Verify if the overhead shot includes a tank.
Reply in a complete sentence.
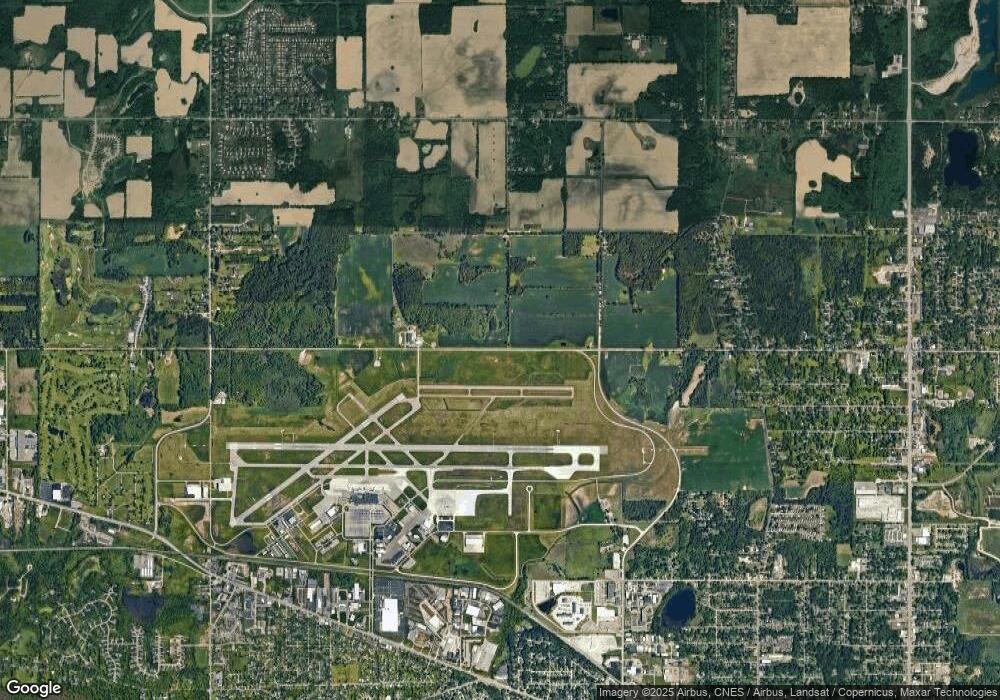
No, the photo shows no tank.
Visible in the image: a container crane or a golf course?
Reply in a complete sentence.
Of the two, only a golf course appears.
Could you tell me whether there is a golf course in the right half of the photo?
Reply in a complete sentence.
No, I see no golf course in the right half of the photo.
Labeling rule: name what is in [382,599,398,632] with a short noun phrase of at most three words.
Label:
building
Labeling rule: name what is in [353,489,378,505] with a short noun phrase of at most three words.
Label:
building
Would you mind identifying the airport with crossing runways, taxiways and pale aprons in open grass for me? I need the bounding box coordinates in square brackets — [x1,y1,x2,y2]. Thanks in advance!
[226,386,608,565]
